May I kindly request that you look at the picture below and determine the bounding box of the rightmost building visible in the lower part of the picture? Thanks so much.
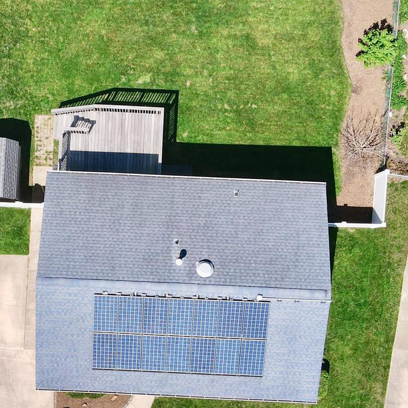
[36,170,331,404]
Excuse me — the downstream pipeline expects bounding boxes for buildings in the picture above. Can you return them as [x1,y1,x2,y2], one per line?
[36,170,331,404]
[0,136,21,200]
